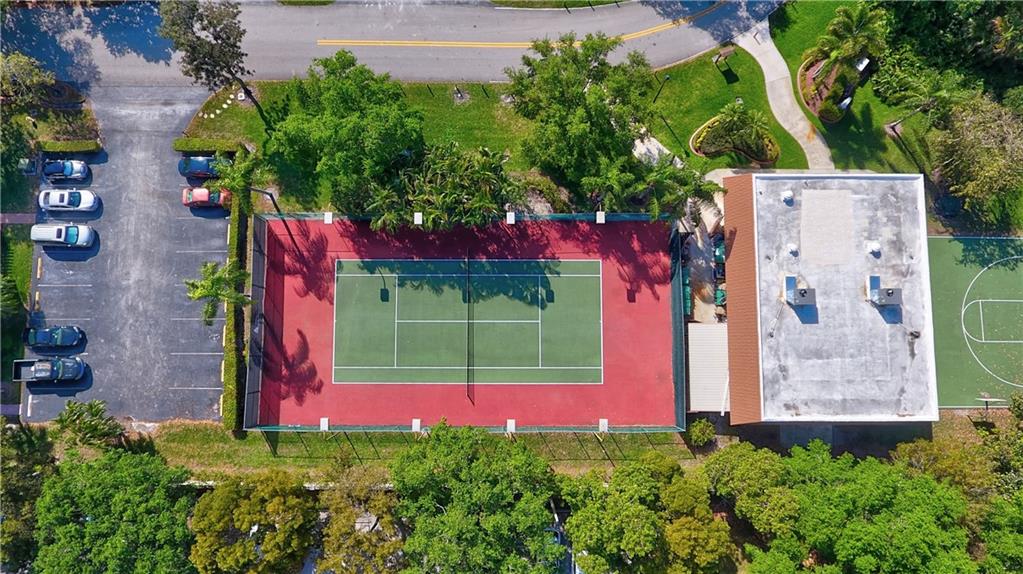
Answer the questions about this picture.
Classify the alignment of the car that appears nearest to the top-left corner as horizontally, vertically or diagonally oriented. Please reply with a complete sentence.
The car that appears nearest to the top-left corner is laid out horizontally.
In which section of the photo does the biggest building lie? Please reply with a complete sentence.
You can find the biggest building in the right area of the picture.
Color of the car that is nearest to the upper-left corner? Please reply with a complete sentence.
The car that is nearest to the upper-left corner is blue.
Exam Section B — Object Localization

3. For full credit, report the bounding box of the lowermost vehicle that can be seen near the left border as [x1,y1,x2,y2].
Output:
[11,357,88,383]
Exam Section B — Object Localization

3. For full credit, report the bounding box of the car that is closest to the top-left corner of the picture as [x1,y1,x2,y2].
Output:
[42,158,92,181]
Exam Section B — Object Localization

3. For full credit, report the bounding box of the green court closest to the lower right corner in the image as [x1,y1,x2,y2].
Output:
[927,238,1023,406]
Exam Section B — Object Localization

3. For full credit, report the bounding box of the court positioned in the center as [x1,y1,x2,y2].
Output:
[260,220,674,425]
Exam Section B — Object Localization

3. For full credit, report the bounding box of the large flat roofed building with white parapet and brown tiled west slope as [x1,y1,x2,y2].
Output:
[713,174,938,428]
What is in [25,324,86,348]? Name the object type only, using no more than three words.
car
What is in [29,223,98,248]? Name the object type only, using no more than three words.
car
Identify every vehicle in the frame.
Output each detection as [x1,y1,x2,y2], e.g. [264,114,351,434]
[39,188,101,213]
[180,155,236,180]
[42,158,92,181]
[11,357,88,383]
[29,223,98,248]
[25,324,86,348]
[184,186,229,209]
